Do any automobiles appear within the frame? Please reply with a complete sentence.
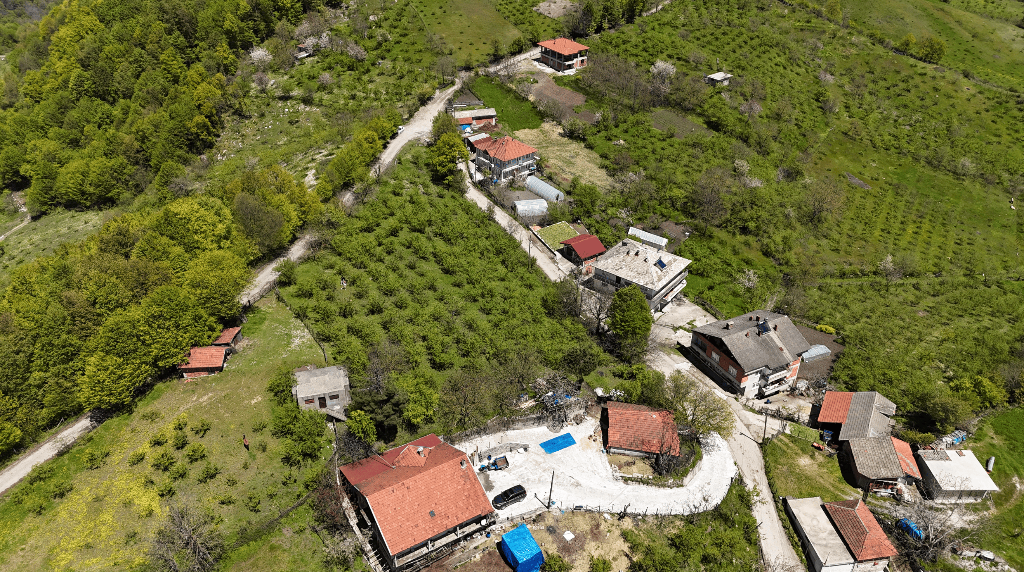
Yes, this view includes an automobile.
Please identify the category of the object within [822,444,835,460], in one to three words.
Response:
vehicle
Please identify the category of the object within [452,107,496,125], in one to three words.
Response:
shed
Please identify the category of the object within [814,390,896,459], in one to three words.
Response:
barn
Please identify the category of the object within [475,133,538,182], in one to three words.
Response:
house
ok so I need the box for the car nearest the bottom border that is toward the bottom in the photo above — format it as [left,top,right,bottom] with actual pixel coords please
[492,483,528,509]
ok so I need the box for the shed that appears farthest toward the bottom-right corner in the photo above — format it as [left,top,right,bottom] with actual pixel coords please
[917,451,999,504]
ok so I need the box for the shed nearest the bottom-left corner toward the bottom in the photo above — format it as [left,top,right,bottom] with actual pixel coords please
[181,343,232,378]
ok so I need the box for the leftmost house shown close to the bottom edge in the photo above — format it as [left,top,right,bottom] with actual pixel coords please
[339,433,496,572]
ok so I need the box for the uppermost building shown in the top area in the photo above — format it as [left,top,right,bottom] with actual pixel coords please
[537,33,589,74]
